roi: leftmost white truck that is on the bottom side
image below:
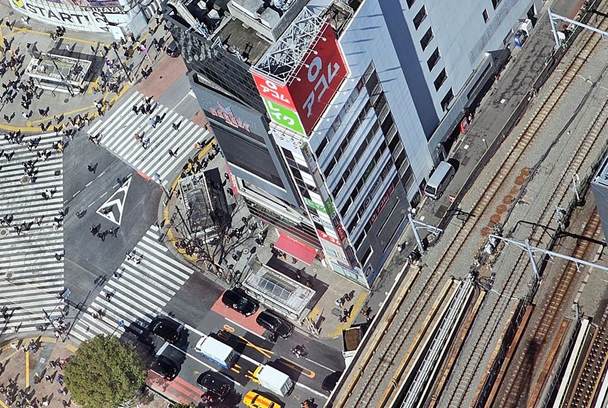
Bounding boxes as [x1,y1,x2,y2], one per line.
[193,333,238,369]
